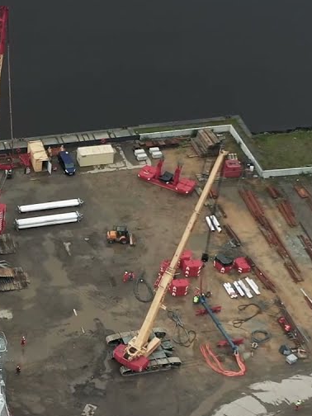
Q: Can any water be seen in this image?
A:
Yes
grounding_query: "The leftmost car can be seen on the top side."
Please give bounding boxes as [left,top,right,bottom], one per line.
[60,153,76,171]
